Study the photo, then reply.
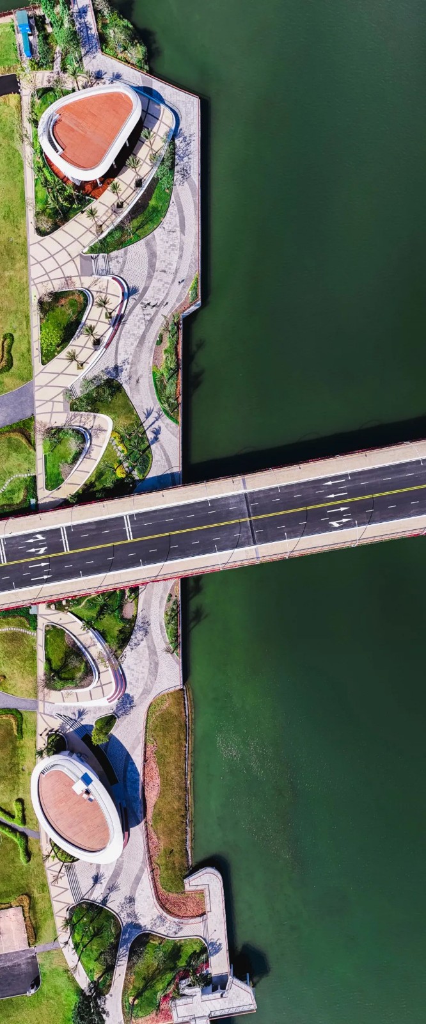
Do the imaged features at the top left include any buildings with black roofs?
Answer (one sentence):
No, no building with a black roof is visible at the top left.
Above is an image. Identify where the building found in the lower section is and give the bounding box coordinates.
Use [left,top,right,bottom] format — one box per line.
[31,750,123,863]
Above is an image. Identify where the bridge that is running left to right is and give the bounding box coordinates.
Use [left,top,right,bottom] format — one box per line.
[0,438,426,611]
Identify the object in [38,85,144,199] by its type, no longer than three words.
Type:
building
